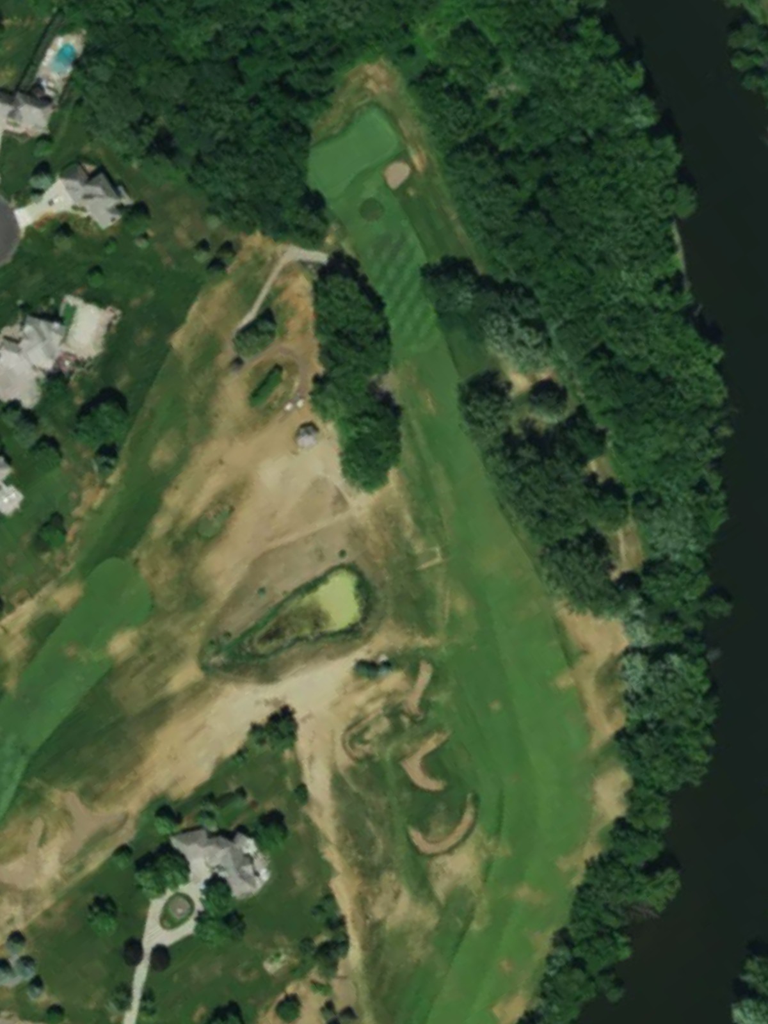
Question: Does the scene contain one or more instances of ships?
No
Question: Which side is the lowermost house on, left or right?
left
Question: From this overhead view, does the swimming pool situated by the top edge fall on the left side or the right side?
left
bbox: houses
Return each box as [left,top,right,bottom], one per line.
[0,465,25,516]
[57,162,124,230]
[0,87,53,137]
[0,310,70,406]
[169,829,260,900]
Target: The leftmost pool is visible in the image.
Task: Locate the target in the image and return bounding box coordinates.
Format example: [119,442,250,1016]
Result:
[52,42,76,72]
